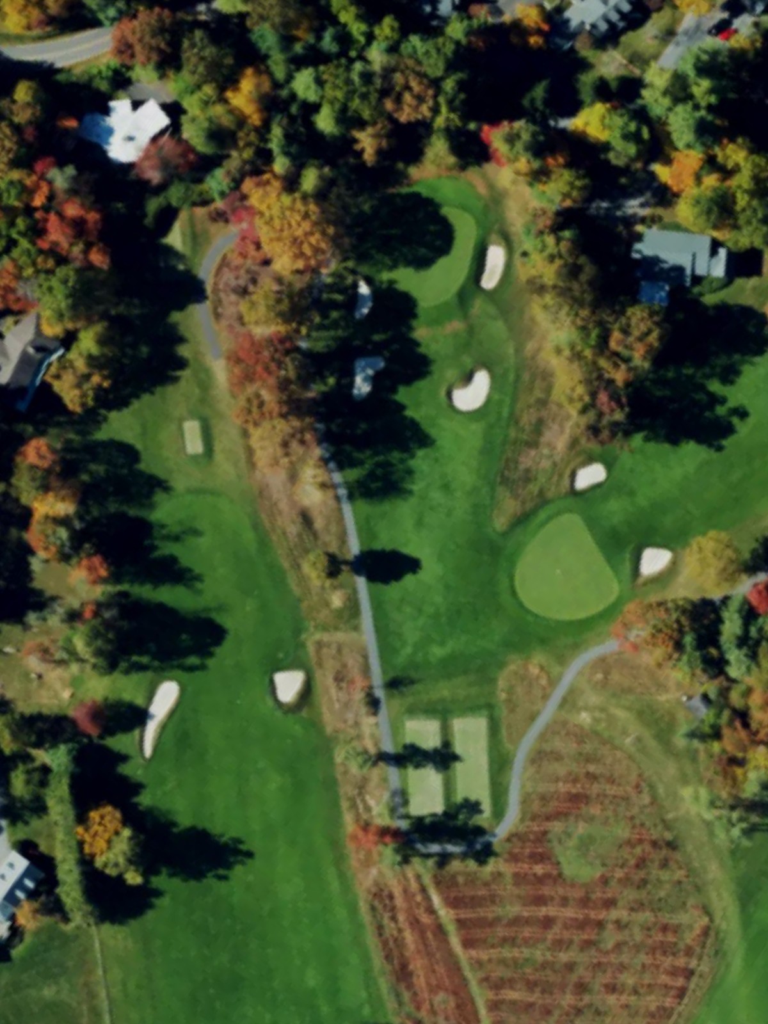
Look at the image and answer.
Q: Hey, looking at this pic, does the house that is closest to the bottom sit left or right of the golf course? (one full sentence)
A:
From the viewer's perspective, the house that is closest to the bottom falls to the left of the golf course.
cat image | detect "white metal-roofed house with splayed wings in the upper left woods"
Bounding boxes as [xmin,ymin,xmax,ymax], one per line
[76,94,172,163]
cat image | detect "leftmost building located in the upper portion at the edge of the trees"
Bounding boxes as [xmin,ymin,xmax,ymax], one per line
[0,317,60,412]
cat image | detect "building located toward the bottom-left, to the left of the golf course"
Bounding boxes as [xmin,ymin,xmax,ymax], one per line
[0,848,49,927]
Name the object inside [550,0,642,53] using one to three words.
house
